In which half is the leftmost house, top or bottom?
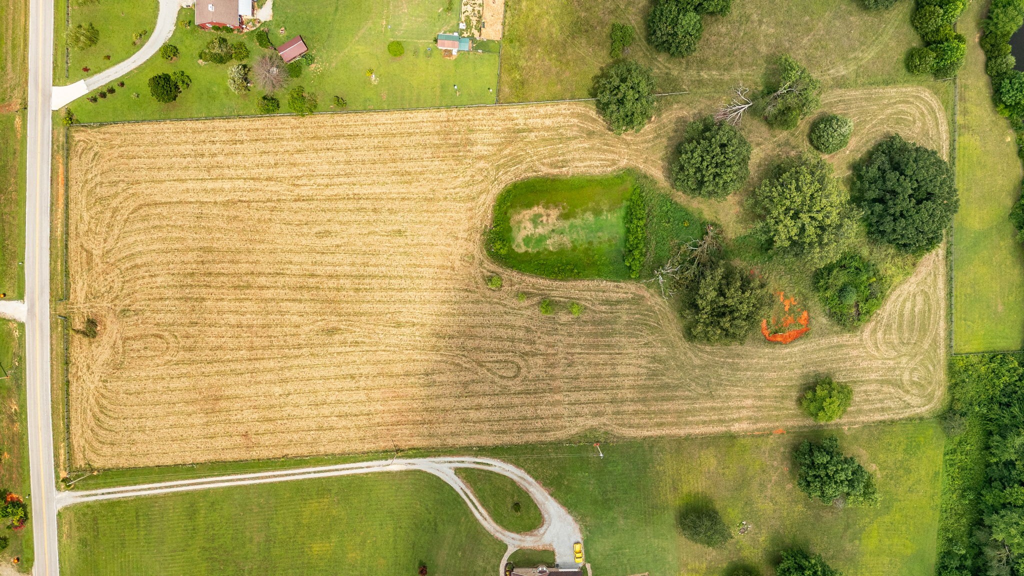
top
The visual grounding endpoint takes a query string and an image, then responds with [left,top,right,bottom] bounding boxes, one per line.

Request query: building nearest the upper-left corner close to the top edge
[195,0,265,32]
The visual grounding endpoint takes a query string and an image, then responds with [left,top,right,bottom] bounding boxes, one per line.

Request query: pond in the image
[493,171,640,281]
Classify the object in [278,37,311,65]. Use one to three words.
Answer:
shed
